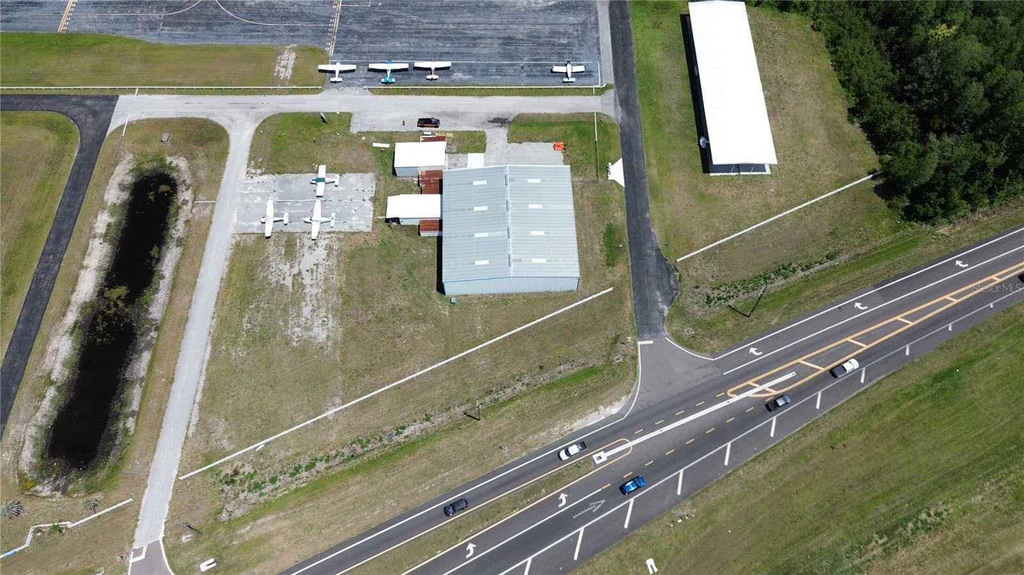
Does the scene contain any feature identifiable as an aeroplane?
Yes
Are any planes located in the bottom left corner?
No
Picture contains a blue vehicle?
Yes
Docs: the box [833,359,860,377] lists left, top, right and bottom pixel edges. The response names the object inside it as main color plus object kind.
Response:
white vehicle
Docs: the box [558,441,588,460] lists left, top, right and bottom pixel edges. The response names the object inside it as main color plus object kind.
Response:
white vehicle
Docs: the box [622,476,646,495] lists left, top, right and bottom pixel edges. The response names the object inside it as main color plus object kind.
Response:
blue car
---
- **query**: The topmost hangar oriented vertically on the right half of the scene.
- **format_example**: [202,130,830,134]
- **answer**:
[686,0,777,175]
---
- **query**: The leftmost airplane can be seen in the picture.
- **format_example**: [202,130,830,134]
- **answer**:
[259,200,291,236]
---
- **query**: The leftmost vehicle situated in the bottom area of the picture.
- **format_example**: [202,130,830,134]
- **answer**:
[444,499,469,517]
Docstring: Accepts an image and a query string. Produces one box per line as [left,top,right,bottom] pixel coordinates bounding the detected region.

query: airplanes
[259,200,291,236]
[369,60,408,83]
[311,165,342,195]
[553,59,586,82]
[414,59,451,81]
[302,200,339,239]
[318,62,356,84]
